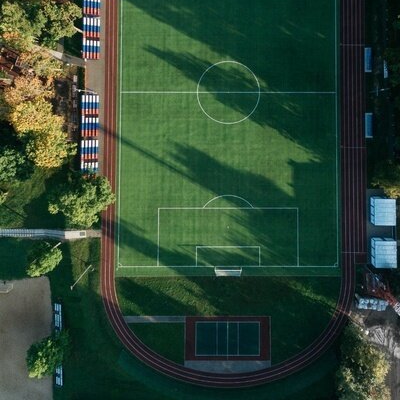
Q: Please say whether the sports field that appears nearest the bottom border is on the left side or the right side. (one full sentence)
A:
The sports field that appears nearest the bottom border is on the left side of the image.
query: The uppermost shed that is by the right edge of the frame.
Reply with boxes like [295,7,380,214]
[370,197,397,227]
